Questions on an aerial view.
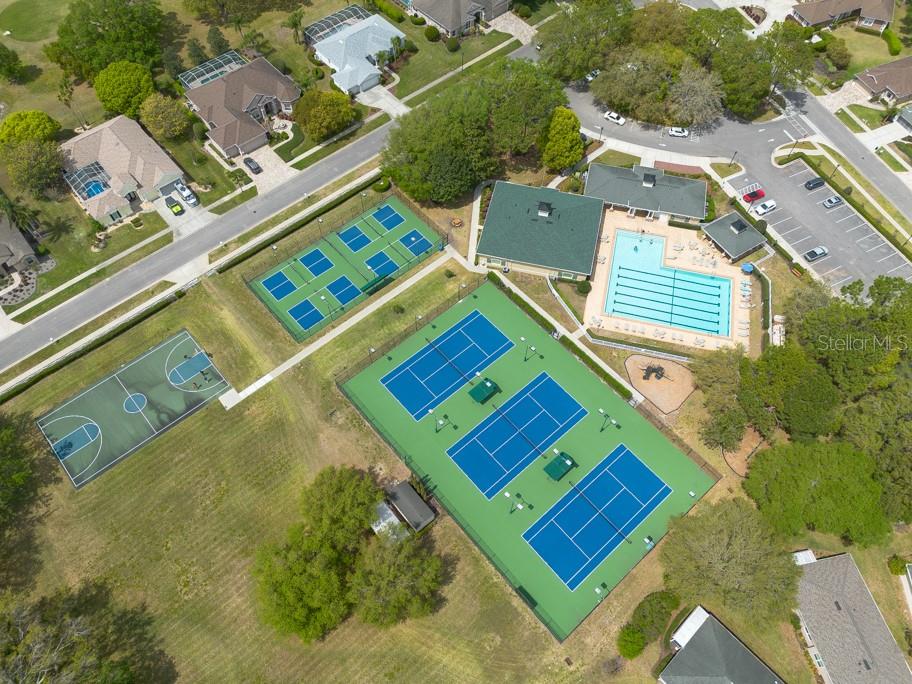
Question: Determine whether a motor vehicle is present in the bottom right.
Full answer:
No, there is no motor vehicle in the bottom right.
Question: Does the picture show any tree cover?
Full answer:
Yes, some tree cover is visible.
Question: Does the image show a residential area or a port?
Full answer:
The picture captures a residential area.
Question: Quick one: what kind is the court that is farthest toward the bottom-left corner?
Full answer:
From above, the court that is farthest toward the bottom-left corner can be identified as a basketball court.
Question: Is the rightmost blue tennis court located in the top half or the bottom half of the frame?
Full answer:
Seen from above, the rightmost blue tennis court lies in the bottom half of the view.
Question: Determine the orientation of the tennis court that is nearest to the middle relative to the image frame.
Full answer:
From this overhead view, the tennis court that is nearest to the middle appears to run diagonally.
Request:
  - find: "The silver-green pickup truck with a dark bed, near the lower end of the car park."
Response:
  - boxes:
[801,248,828,264]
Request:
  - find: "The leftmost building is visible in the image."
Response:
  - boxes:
[0,202,42,293]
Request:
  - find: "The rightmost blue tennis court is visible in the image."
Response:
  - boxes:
[519,444,671,592]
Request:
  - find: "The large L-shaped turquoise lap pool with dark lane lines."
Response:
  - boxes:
[601,229,733,339]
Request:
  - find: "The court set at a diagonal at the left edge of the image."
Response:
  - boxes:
[32,327,231,490]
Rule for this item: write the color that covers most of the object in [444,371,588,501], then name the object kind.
blue tennis court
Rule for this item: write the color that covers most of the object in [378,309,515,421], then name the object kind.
blue tennis court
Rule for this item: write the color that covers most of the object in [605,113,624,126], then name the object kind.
white vehicle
